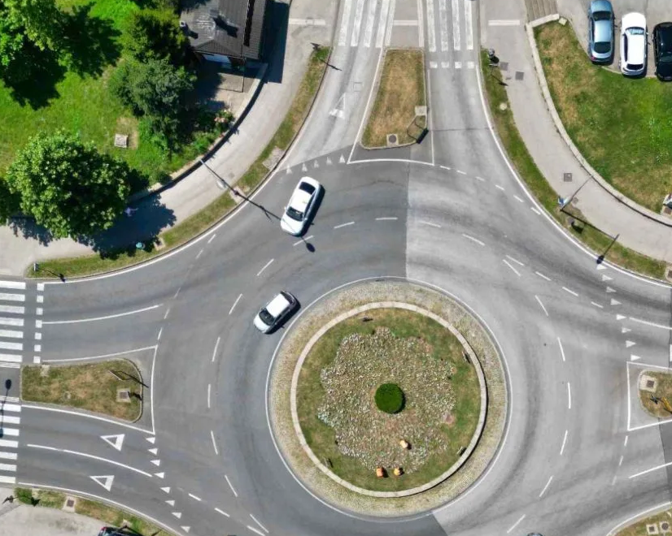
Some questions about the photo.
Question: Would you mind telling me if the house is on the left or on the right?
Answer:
left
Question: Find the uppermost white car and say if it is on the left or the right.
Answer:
right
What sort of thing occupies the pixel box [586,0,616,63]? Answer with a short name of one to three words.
car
